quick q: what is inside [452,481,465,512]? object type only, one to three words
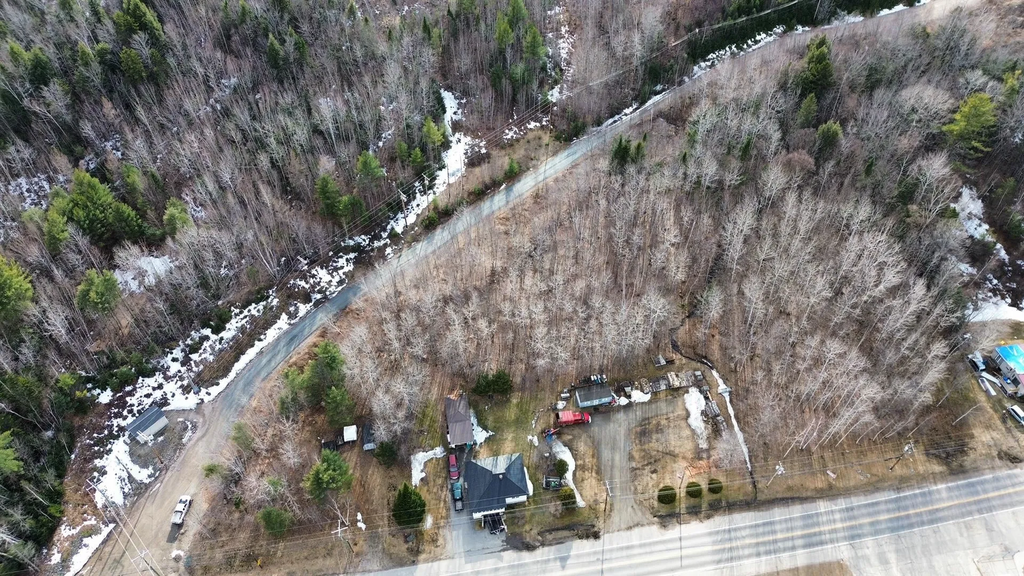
vehicle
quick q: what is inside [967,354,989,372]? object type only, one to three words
car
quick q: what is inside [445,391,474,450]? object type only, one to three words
building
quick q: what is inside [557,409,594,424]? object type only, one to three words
vehicle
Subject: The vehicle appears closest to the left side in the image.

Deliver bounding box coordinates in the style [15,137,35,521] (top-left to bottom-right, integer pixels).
[167,495,190,526]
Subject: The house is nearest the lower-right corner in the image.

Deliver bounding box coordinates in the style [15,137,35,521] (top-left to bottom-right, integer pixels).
[991,341,1024,403]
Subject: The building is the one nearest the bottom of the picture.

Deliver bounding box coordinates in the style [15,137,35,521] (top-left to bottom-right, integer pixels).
[465,453,529,525]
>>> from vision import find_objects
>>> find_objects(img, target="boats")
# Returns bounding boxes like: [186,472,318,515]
[980,378,997,394]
